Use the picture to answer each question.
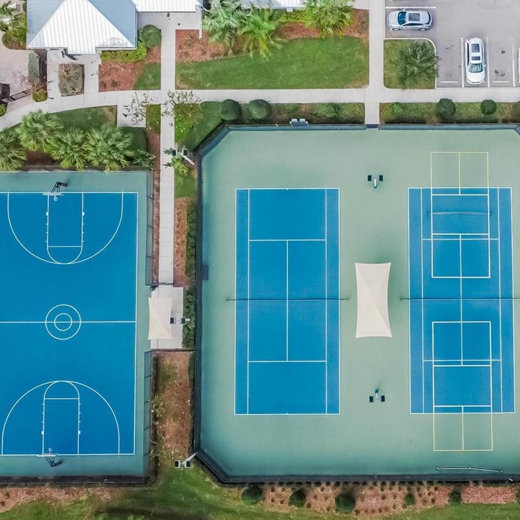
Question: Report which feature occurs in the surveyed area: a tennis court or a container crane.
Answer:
tennis court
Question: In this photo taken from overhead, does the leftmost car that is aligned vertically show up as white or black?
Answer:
white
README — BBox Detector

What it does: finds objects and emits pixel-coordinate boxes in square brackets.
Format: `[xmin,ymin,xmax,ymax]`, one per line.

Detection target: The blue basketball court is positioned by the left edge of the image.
[0,172,153,478]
